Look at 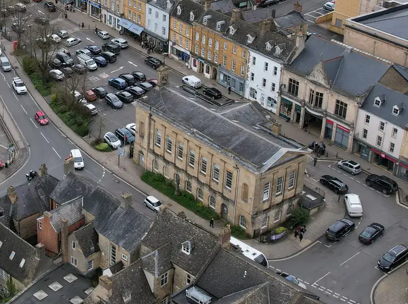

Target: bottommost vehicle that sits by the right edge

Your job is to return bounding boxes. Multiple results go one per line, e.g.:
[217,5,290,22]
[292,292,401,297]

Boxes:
[382,246,408,269]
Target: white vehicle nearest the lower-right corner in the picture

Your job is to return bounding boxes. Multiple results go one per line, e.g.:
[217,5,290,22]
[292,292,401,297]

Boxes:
[346,195,364,217]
